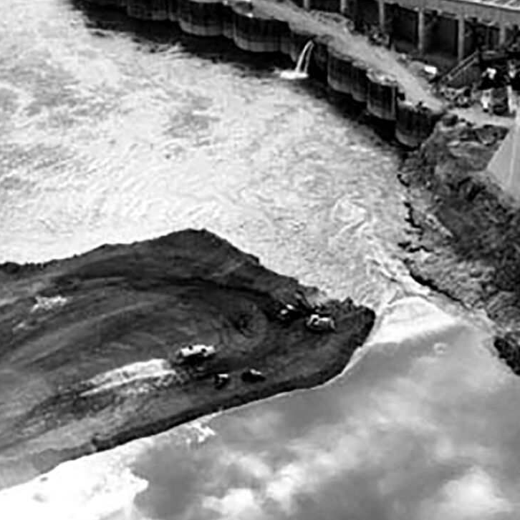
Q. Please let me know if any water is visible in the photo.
Yes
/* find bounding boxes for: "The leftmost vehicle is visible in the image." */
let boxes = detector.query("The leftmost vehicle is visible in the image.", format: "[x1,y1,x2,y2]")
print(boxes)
[177,343,213,362]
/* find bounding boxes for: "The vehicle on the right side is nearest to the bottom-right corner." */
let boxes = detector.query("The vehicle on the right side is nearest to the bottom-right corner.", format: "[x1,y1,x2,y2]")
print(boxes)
[308,314,337,329]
